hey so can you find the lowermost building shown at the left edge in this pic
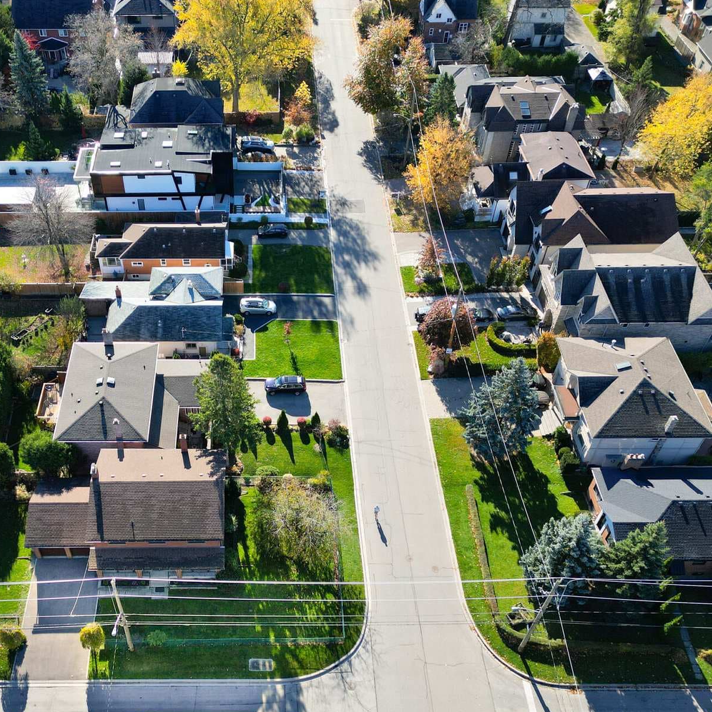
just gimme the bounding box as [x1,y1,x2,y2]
[24,429,228,583]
